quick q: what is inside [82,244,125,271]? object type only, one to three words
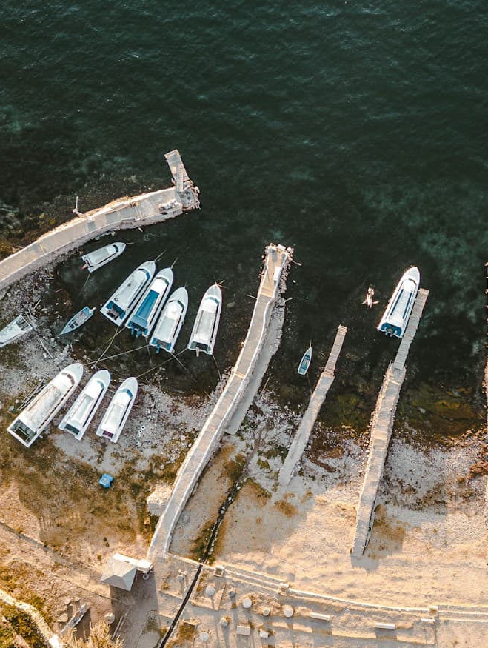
boat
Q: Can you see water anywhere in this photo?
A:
Yes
